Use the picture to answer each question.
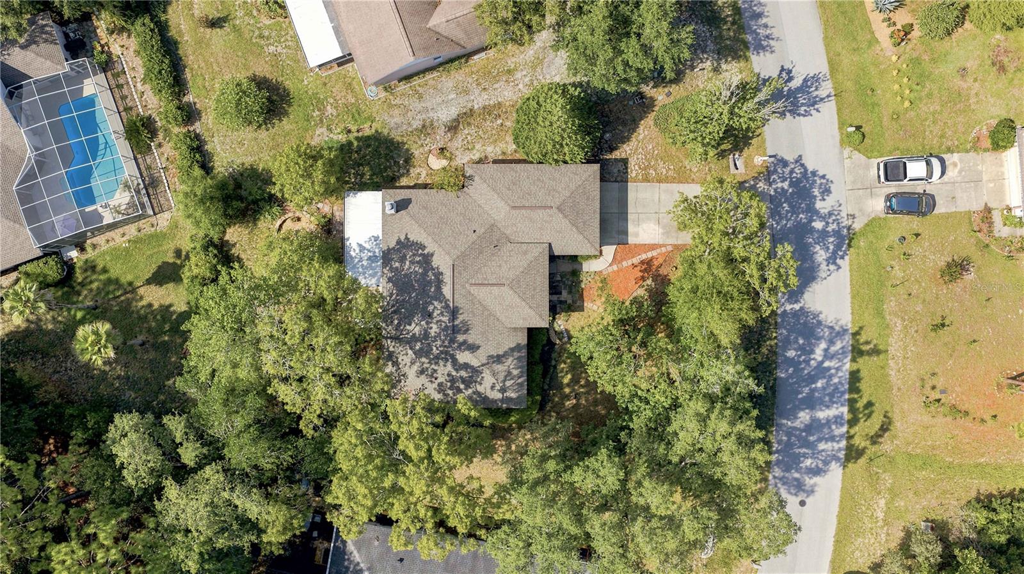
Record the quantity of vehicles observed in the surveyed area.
2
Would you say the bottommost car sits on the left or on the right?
right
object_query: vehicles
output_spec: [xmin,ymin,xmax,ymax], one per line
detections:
[882,192,931,216]
[876,158,941,184]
